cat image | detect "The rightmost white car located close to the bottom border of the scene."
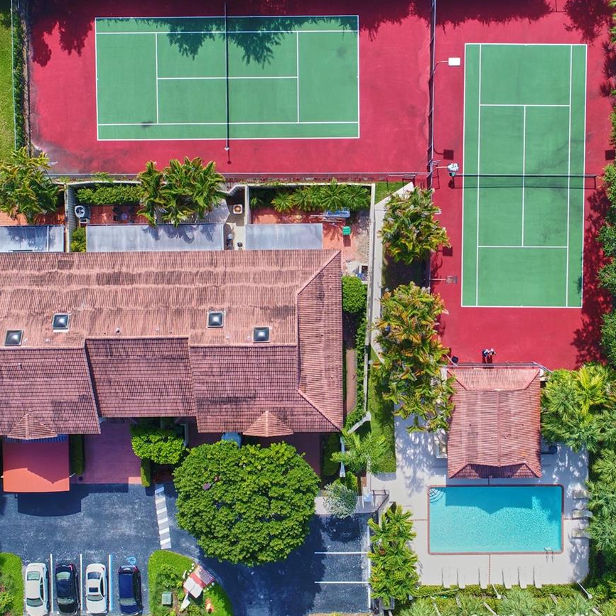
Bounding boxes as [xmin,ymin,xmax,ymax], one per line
[84,561,110,614]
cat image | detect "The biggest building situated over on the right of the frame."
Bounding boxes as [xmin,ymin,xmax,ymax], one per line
[445,367,543,479]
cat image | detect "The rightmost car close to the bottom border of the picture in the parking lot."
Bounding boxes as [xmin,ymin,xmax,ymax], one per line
[117,563,142,616]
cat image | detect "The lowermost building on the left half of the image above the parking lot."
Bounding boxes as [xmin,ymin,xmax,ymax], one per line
[0,250,344,438]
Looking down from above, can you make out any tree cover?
Yes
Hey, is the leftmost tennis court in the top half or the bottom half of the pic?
top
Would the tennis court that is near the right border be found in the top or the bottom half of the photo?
top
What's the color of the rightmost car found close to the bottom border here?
blue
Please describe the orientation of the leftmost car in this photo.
vertically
